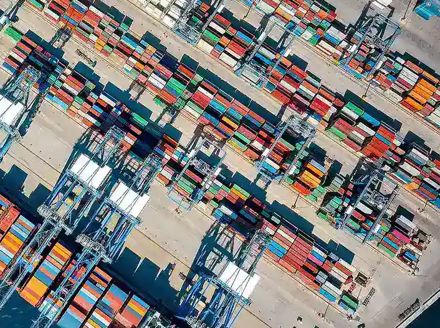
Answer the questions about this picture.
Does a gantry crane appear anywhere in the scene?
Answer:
Yes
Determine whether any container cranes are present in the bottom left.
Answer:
Yes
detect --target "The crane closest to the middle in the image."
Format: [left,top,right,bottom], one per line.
[163,142,229,210]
